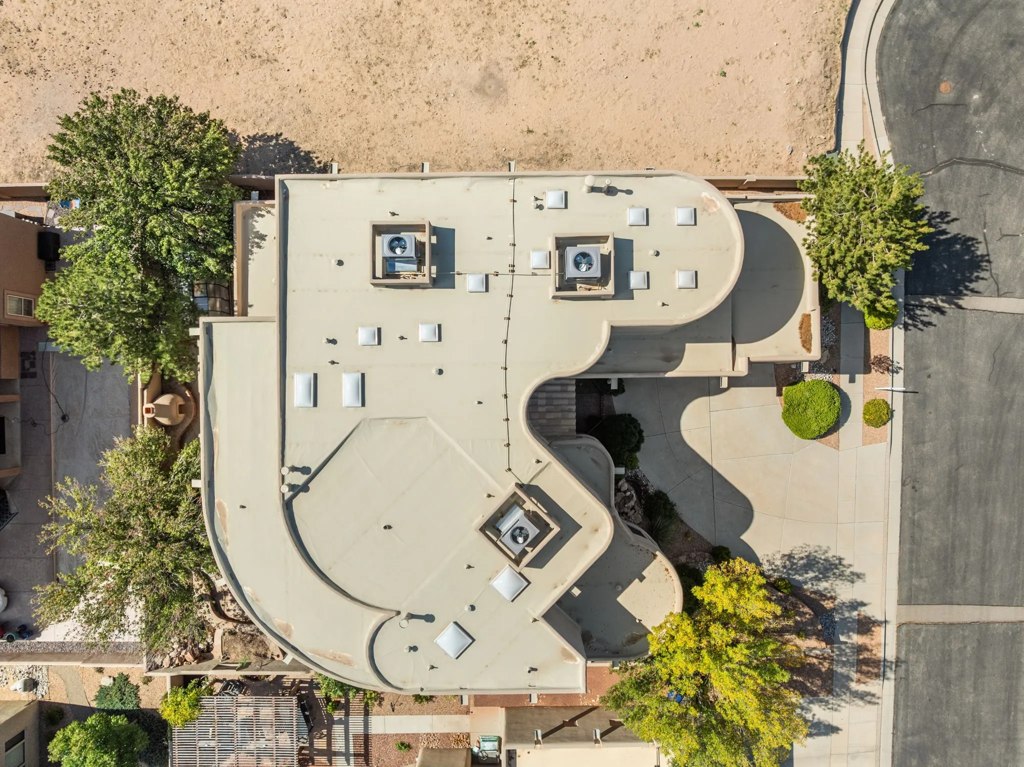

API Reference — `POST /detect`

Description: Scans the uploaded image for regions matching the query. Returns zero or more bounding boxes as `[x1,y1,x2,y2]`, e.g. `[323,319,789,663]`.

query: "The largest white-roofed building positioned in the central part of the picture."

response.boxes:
[188,159,820,706]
